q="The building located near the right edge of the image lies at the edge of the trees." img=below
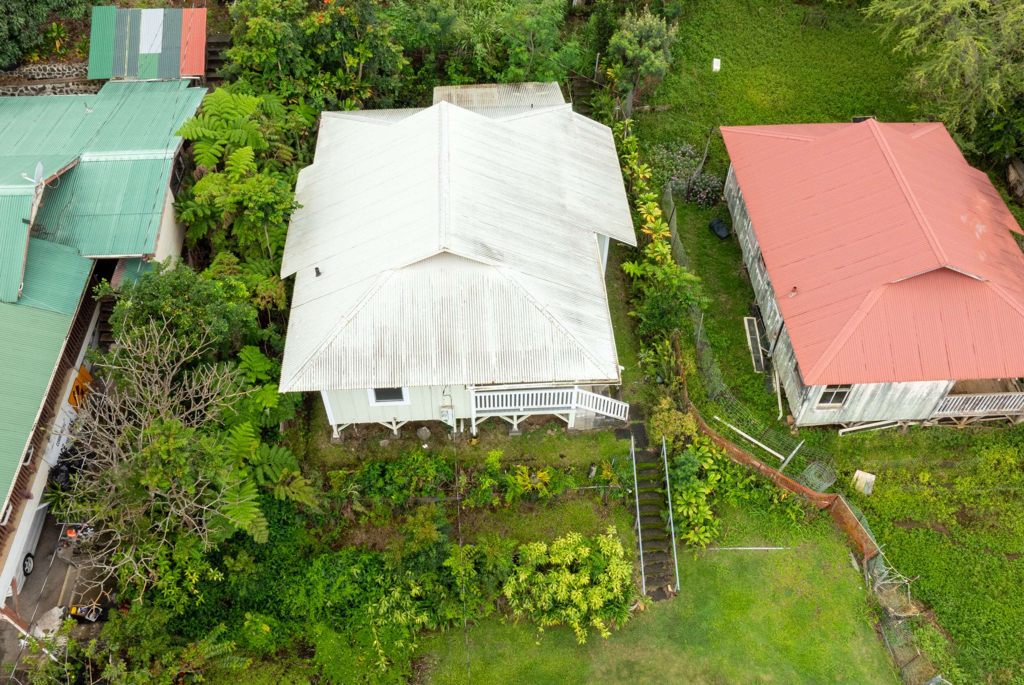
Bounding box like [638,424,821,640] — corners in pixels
[719,117,1024,438]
